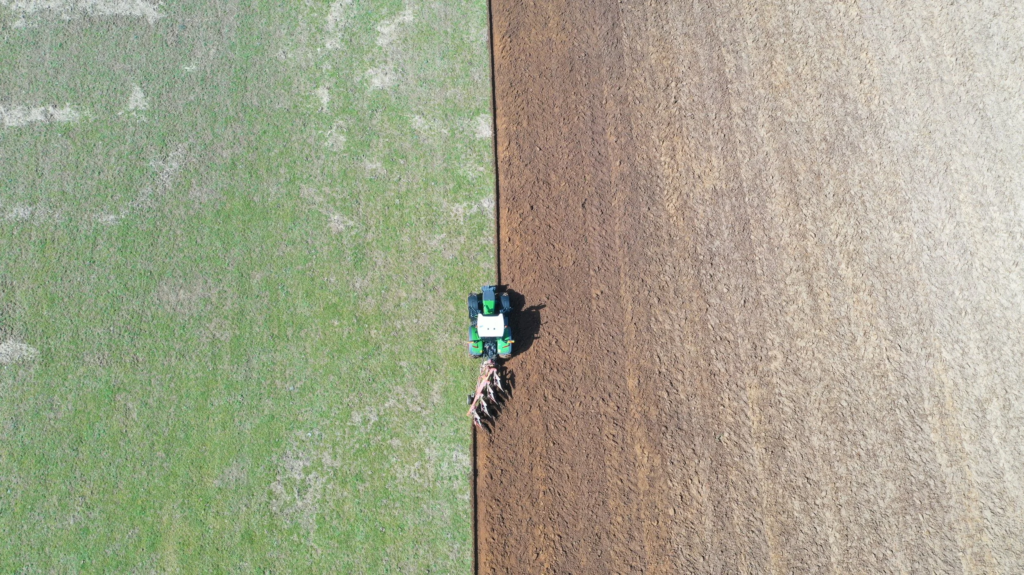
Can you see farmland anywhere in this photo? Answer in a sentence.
Yes, there is farmland in the image.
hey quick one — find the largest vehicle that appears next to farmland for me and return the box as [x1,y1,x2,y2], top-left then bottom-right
[467,284,513,363]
